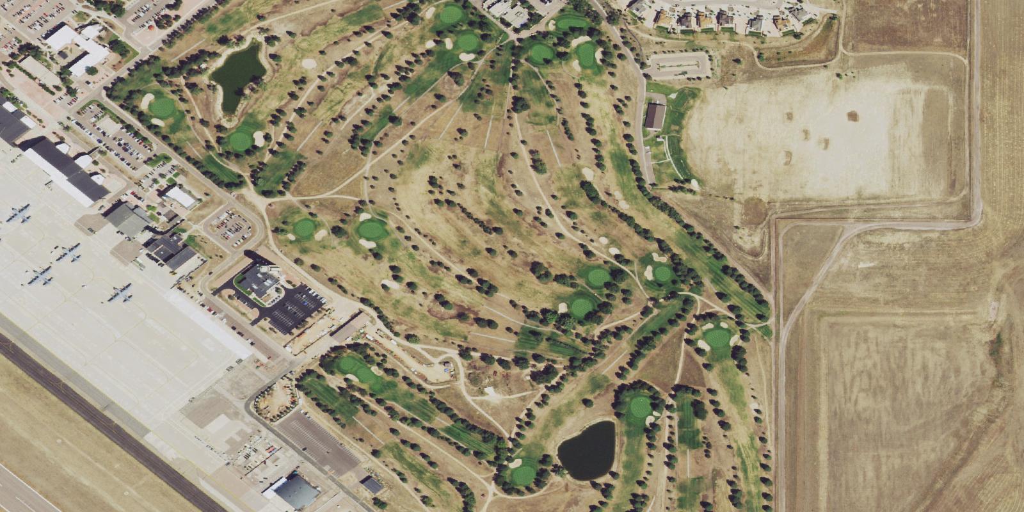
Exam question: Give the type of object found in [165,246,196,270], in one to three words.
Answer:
building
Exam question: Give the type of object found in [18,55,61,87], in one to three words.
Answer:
building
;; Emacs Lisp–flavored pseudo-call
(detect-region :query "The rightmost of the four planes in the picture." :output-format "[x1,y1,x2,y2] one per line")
[109,285,135,305]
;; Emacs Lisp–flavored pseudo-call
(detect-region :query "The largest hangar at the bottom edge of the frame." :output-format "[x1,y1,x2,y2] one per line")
[272,474,320,511]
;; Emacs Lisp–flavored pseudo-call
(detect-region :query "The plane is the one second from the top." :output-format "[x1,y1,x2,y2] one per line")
[58,245,84,265]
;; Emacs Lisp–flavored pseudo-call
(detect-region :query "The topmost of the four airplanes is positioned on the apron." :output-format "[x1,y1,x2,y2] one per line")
[8,205,34,225]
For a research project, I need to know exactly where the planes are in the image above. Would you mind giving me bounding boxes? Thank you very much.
[109,285,135,305]
[8,205,34,225]
[29,267,55,287]
[58,245,84,265]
